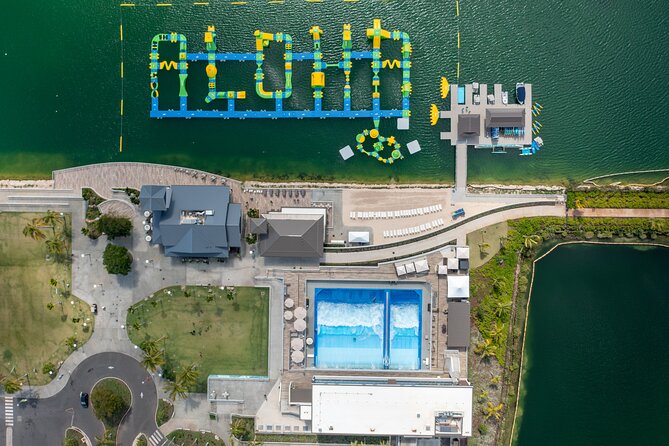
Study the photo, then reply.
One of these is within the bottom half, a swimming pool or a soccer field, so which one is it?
swimming pool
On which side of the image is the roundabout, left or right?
left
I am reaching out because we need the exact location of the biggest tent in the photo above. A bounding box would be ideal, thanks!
[446,275,469,297]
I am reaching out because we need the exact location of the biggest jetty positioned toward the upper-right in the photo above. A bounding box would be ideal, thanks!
[438,82,535,153]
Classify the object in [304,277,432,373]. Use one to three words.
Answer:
swimming pool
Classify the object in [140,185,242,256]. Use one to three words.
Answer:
building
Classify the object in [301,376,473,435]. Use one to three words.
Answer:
building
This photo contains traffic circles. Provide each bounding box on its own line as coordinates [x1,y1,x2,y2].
[63,353,157,446]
